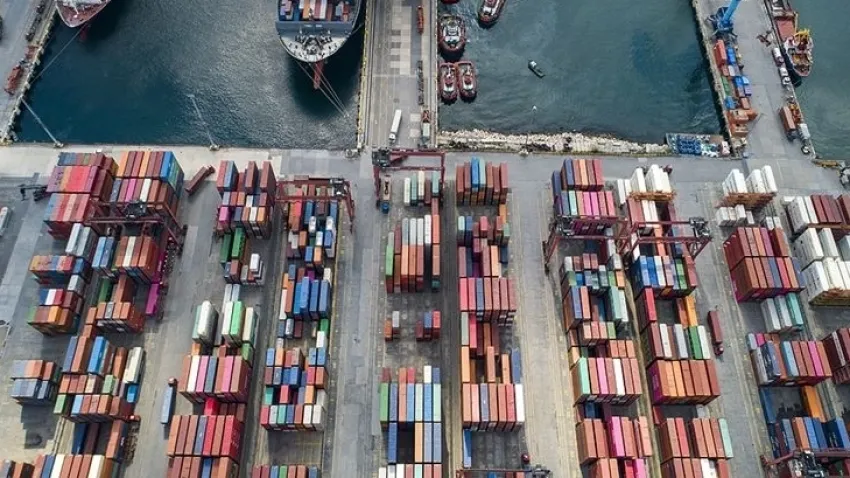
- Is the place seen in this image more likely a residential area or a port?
port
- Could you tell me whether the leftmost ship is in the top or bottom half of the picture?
top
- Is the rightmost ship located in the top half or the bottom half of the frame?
top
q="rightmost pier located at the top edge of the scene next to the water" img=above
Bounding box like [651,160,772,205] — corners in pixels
[691,0,815,159]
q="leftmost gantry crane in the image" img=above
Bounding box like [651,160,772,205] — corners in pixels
[83,198,185,246]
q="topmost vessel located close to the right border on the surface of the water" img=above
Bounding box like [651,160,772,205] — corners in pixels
[769,0,823,80]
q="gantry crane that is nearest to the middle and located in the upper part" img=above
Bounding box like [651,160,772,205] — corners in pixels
[372,147,446,202]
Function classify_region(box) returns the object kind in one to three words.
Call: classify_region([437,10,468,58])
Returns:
boat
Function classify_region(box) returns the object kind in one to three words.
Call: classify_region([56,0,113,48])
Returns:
ship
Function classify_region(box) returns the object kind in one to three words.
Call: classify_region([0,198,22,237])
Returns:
truck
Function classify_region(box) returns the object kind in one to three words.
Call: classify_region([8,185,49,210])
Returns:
work vehicle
